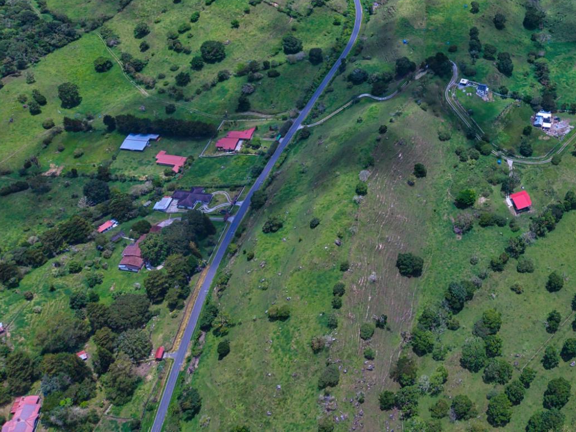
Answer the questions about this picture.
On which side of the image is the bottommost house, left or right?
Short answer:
left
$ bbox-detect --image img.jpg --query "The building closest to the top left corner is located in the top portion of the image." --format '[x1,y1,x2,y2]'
[118,135,160,154]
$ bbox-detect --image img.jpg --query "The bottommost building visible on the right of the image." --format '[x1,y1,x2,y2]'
[506,190,536,214]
